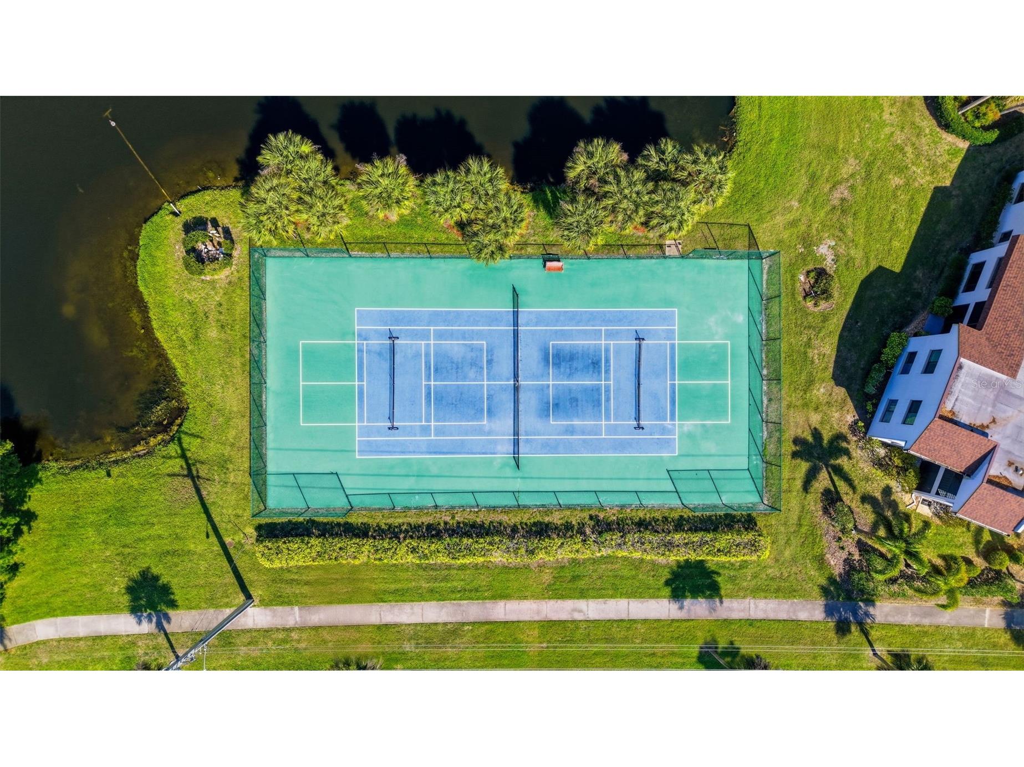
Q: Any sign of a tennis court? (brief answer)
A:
Yes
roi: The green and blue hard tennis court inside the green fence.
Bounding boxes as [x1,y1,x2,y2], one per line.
[265,257,764,510]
